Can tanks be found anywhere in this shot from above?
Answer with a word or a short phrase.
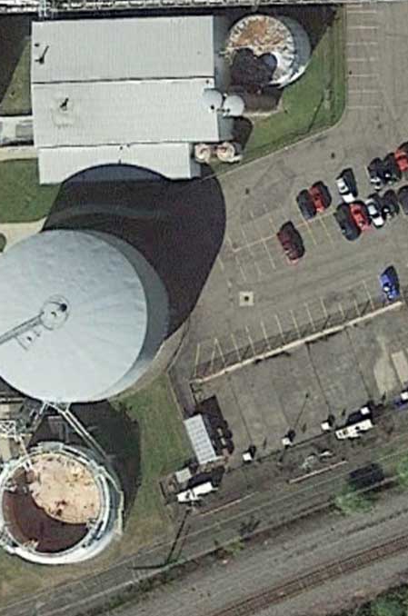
Yes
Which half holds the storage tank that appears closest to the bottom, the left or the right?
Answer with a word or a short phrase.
left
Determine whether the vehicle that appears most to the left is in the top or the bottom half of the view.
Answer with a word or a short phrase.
bottom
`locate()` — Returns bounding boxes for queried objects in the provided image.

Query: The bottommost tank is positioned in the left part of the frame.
[0,441,124,564]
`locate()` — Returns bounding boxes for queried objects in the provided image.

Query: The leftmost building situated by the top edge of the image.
[33,14,230,148]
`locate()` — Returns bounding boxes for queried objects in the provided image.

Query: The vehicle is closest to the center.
[278,229,299,258]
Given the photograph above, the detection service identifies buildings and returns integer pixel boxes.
[33,14,230,148]
[184,415,223,467]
